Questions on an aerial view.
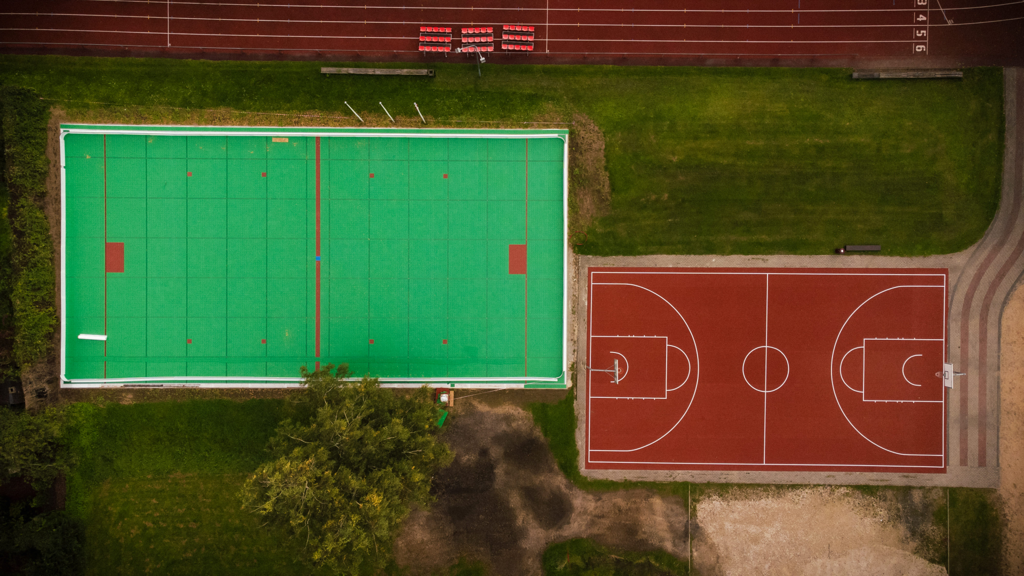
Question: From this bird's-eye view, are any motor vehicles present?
No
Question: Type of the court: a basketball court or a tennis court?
basketball court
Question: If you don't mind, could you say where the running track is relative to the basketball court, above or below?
above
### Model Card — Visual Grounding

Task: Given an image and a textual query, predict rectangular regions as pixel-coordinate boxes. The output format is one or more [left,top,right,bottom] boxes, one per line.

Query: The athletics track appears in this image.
[0,0,1024,69]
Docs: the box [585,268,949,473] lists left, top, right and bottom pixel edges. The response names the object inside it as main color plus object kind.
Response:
red basketball court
